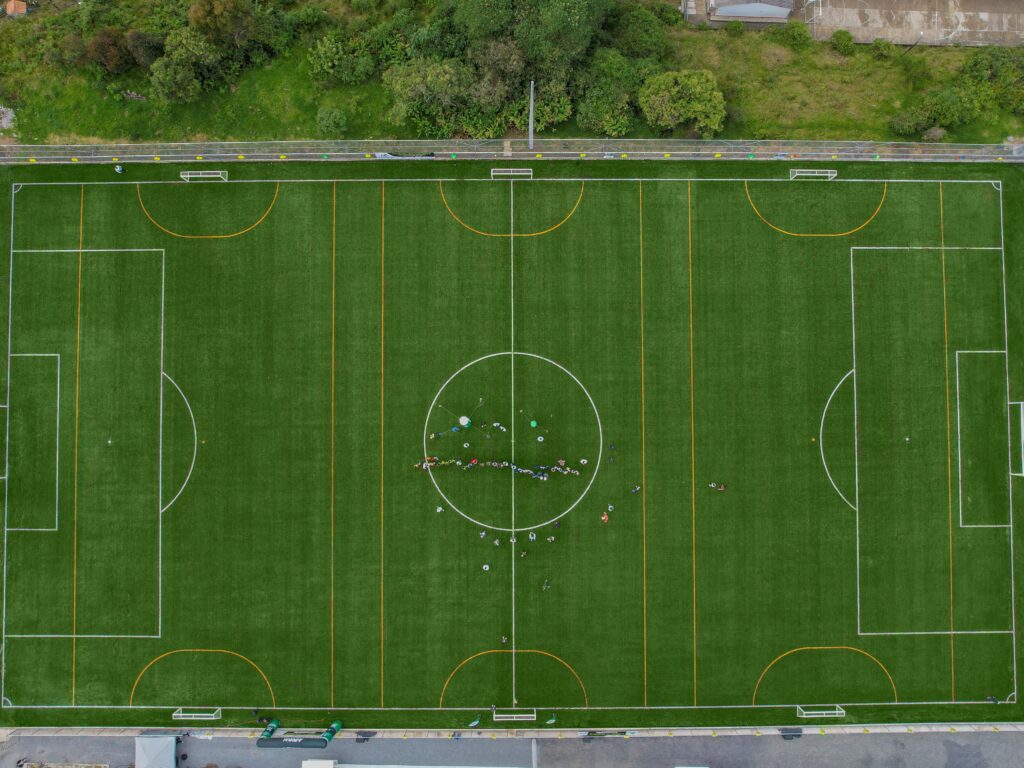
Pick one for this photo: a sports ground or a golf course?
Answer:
sports ground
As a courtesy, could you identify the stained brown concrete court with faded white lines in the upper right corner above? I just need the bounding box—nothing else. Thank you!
[806,0,1024,48]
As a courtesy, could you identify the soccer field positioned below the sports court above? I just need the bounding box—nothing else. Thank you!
[0,159,1024,729]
